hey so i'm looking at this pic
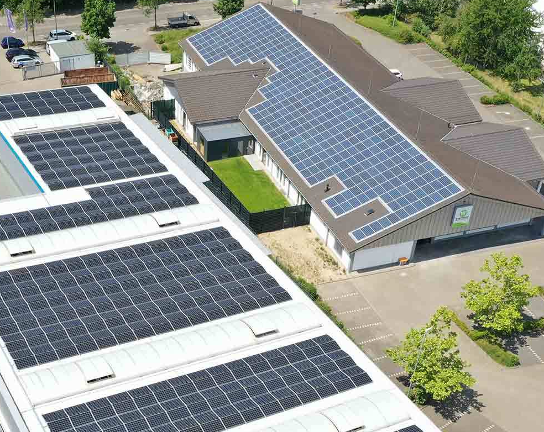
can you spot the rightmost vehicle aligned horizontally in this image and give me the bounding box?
[169,13,199,28]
